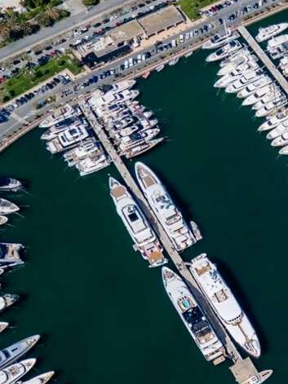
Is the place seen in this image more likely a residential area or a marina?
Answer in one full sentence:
The area seen from above is a marina.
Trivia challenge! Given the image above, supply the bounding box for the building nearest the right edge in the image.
[138,3,188,40]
